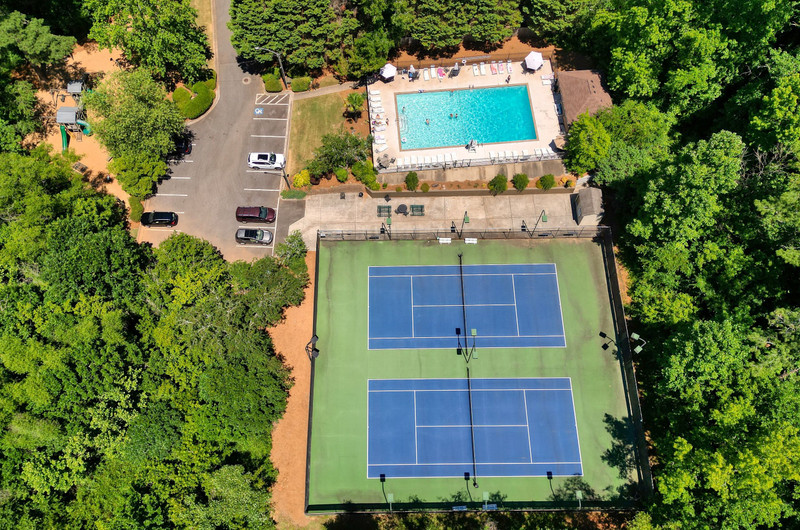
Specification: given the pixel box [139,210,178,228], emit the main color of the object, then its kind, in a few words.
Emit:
black car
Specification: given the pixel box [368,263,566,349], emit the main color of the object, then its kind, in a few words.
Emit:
blue tennis court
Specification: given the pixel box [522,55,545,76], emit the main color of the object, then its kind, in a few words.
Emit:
white umbrella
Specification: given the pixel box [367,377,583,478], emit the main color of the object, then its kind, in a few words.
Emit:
blue tennis court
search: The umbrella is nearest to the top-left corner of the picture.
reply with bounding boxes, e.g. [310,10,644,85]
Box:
[377,66,400,87]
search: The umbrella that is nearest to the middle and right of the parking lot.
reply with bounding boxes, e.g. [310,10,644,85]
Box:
[377,156,393,173]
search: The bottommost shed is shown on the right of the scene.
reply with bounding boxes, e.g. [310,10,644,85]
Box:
[575,181,610,224]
